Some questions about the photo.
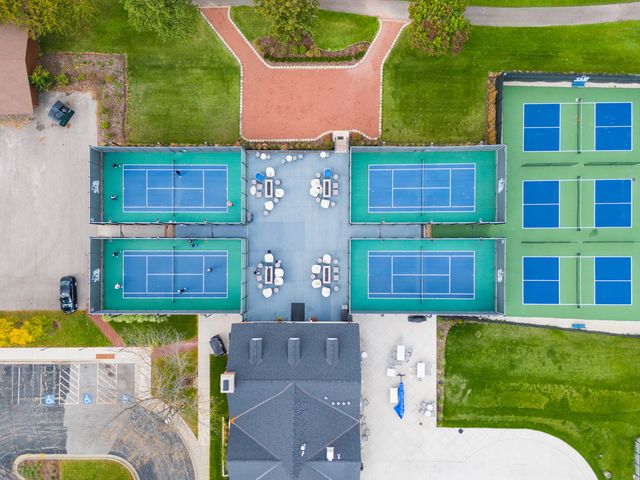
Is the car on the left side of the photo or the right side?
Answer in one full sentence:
It is on the left.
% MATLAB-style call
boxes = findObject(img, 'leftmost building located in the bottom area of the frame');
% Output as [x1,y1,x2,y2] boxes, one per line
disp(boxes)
[221,321,364,480]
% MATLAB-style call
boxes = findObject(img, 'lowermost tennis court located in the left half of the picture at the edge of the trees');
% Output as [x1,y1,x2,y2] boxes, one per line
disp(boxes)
[104,239,247,311]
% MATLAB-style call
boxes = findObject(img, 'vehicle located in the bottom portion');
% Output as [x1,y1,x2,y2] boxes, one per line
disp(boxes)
[58,276,78,314]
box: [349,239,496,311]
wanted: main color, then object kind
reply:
blue tennis court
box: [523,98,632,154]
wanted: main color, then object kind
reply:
blue sports court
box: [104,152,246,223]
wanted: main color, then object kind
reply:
blue tennis court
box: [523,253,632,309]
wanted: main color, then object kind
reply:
blue sports court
